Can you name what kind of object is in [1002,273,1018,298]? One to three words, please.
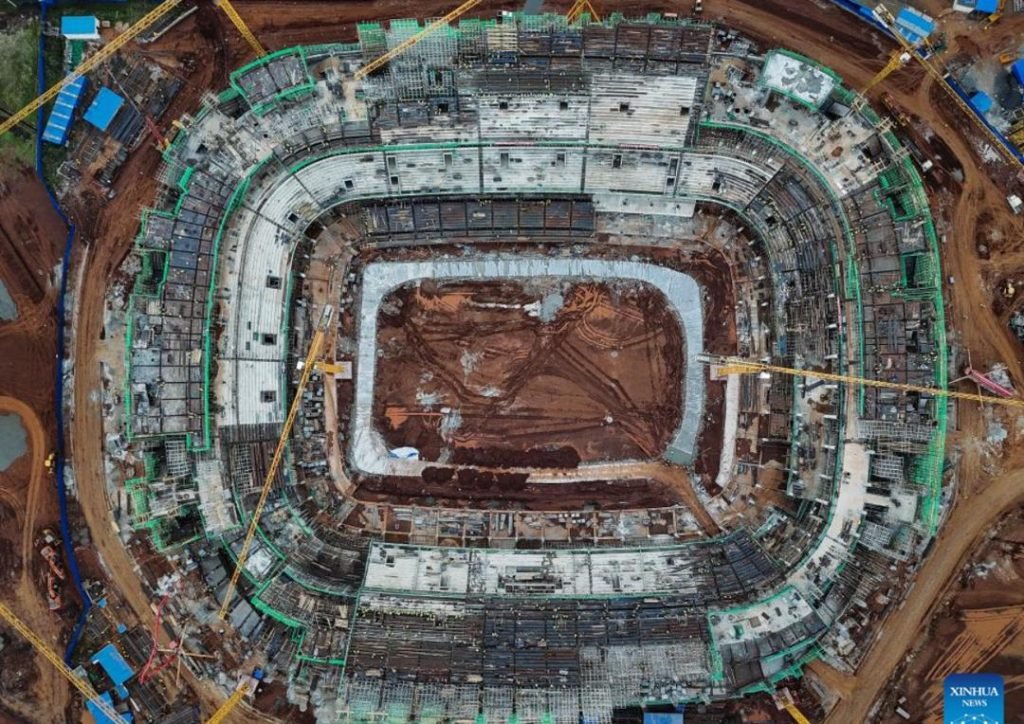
work vehicle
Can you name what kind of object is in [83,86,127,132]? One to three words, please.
shed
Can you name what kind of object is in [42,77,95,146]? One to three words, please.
shed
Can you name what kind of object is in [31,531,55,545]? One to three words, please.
work vehicle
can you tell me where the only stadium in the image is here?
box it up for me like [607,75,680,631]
[124,27,945,703]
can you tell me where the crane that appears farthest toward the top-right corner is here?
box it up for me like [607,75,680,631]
[855,7,1024,165]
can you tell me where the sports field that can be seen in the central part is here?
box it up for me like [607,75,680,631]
[352,256,708,486]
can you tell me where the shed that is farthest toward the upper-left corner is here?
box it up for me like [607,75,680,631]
[62,16,100,41]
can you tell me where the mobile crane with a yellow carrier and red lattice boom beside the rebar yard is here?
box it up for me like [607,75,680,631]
[77,42,170,155]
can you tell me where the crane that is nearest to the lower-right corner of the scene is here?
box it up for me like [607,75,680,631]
[776,687,812,724]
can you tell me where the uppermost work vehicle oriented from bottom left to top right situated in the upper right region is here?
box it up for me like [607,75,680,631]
[982,9,1004,26]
